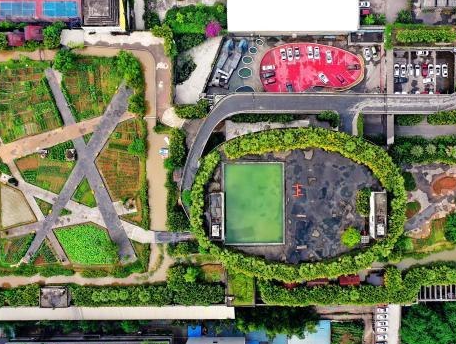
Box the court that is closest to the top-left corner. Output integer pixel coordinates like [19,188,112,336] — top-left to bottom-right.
[0,1,36,18]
